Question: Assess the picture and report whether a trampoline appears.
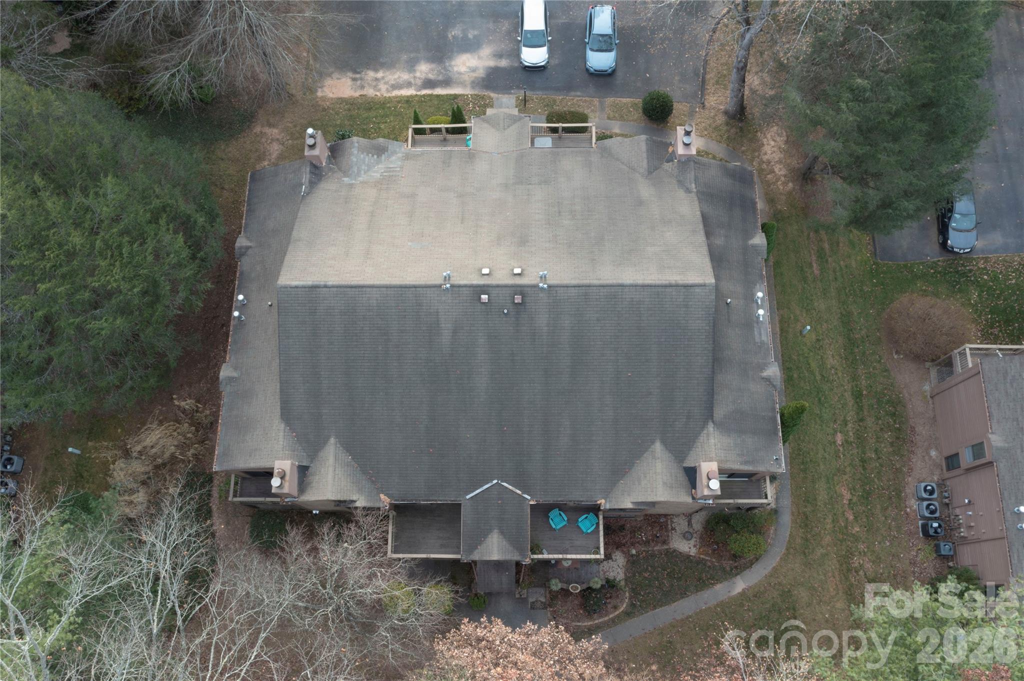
No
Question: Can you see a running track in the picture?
No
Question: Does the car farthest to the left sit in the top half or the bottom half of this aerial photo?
top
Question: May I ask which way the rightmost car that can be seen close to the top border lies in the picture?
up and down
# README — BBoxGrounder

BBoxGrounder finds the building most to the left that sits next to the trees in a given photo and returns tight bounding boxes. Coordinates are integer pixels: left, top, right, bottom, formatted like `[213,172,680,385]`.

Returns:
[212,111,788,581]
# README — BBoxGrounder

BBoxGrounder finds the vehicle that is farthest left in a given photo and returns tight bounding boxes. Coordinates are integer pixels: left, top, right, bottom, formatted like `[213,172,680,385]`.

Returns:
[516,0,553,73]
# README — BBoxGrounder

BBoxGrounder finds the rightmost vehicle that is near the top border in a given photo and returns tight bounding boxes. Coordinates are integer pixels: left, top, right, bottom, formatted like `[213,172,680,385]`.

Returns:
[583,3,620,78]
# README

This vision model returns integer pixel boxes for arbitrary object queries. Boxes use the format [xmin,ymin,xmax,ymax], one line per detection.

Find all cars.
[932,174,983,255]
[583,3,620,78]
[516,0,553,73]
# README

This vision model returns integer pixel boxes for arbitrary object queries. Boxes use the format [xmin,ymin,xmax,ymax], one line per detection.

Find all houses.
[212,111,788,581]
[925,324,1024,681]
